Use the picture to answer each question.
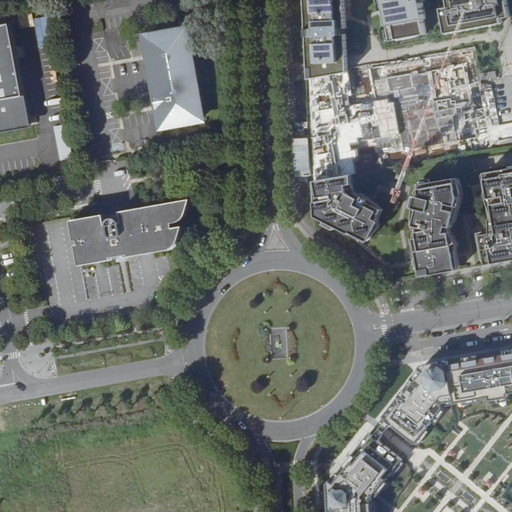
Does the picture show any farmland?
No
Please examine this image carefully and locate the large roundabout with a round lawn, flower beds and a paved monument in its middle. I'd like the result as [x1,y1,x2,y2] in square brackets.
[185,250,376,441]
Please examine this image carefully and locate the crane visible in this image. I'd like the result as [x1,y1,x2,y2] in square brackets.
[395,0,470,196]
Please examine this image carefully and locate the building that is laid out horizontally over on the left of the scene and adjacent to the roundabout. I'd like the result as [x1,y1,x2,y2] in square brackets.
[67,199,187,266]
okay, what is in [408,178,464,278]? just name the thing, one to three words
building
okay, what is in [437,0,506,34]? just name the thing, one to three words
building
